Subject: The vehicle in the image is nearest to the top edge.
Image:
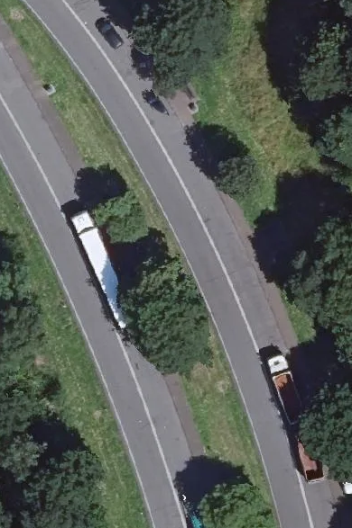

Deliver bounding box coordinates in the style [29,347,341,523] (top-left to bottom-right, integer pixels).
[96,17,123,50]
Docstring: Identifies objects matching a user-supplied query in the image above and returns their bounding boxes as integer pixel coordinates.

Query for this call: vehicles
[69,209,135,328]
[178,489,206,528]
[142,89,170,117]
[96,17,123,50]
[264,354,307,424]
[133,52,156,82]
